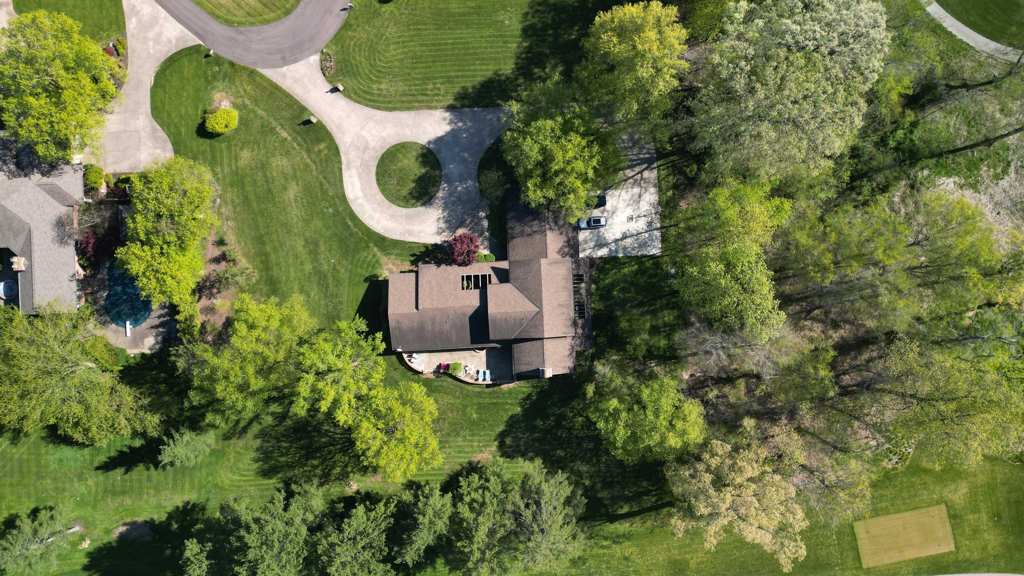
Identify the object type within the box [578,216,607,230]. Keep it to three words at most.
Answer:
car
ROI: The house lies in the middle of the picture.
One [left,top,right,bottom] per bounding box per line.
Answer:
[388,181,594,379]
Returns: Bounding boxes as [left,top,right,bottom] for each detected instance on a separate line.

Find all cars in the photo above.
[578,196,607,209]
[578,216,607,230]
